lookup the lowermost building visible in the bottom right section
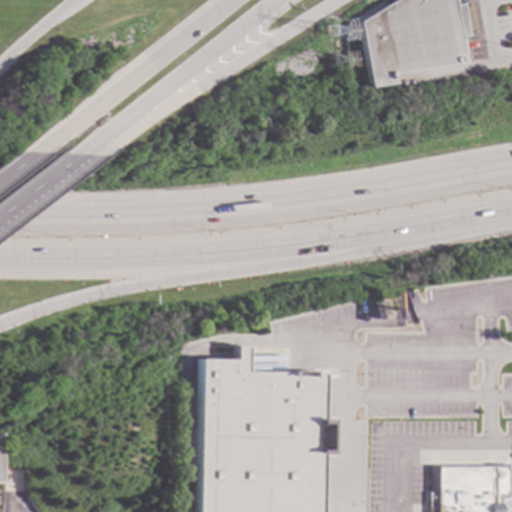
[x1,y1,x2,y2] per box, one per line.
[436,462,512,512]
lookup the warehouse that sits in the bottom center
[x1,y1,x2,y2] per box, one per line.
[196,344,344,512]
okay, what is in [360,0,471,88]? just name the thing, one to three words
building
